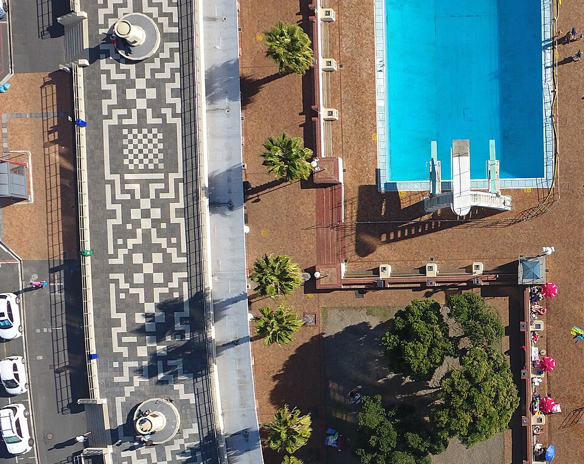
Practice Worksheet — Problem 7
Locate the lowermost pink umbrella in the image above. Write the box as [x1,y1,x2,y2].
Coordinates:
[539,395,557,413]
